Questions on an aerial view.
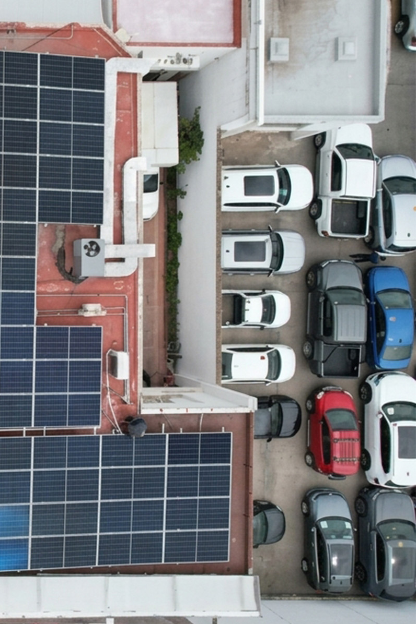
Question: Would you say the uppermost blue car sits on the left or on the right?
right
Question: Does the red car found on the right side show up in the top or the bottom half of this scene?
bottom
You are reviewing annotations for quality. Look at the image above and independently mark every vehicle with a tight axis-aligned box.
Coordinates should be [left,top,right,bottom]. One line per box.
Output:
[253,497,286,547]
[224,288,292,330]
[355,488,416,597]
[247,394,303,440]
[224,226,307,274]
[224,162,316,212]
[306,261,369,376]
[359,372,416,484]
[311,128,376,237]
[364,154,416,257]
[142,169,170,221]
[297,488,360,592]
[359,266,416,367]
[305,387,366,481]
[384,0,416,53]
[211,342,296,386]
